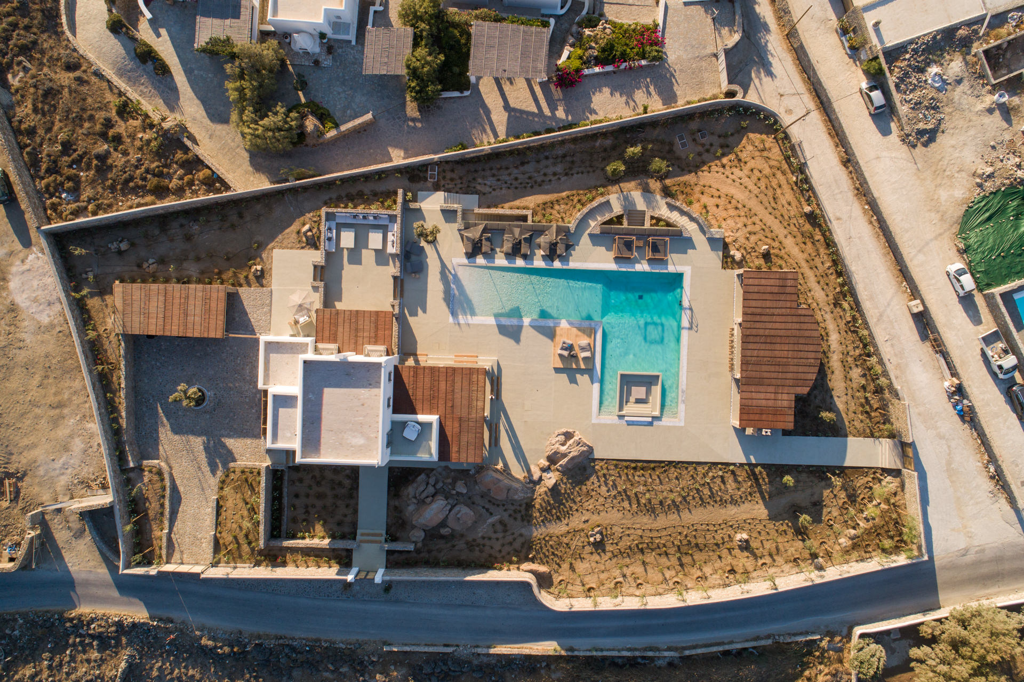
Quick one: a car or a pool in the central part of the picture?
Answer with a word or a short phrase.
pool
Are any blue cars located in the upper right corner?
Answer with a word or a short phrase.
No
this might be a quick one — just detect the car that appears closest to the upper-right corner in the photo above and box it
[859,75,891,116]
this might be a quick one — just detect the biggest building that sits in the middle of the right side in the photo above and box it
[730,266,824,433]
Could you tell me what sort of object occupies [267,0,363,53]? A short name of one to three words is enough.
house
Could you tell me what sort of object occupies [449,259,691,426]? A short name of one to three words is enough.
swimming pool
